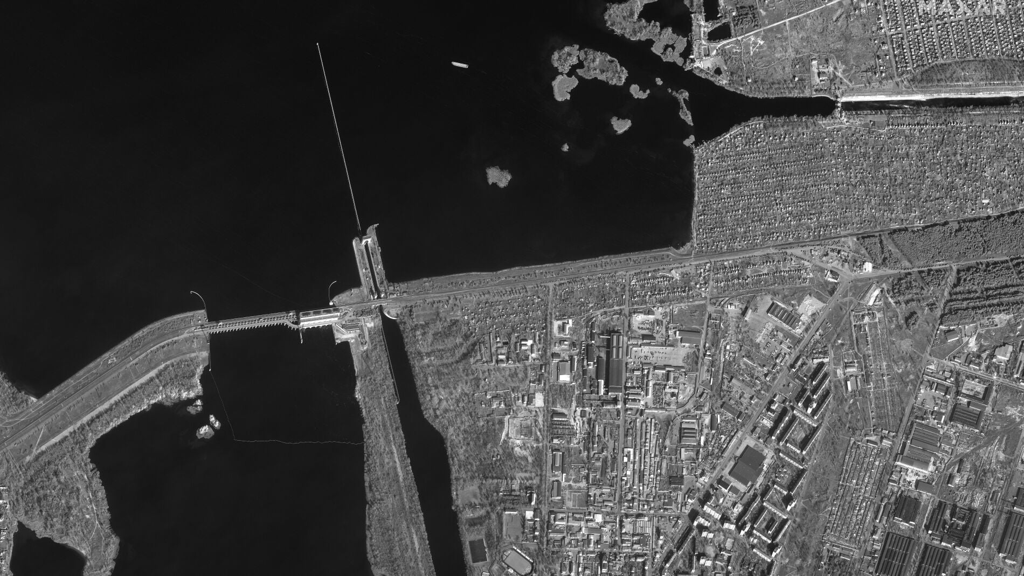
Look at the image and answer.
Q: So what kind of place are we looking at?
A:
port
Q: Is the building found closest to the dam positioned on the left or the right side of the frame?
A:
left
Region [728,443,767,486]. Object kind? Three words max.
building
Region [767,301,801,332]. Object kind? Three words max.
building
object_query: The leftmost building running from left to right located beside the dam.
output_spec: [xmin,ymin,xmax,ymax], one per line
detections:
[301,307,340,328]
